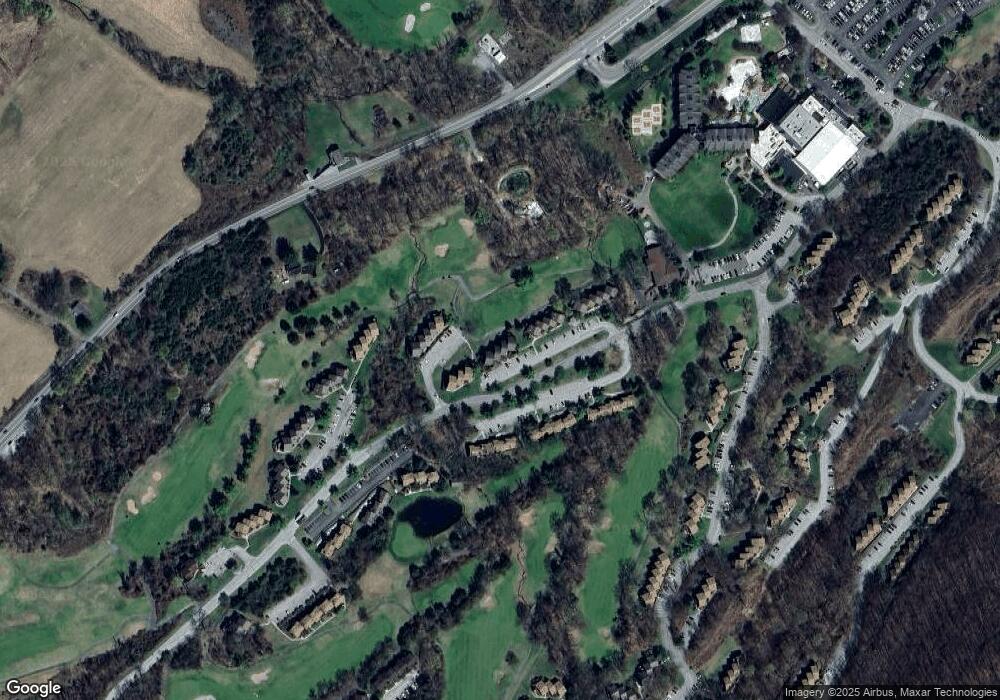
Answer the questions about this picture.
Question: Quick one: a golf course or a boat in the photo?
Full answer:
This aerial view contains a golf course.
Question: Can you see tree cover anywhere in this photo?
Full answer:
Yes, tree cover can be seen from above here.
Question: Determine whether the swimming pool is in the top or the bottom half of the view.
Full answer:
The swimming pool is in the top half of the image.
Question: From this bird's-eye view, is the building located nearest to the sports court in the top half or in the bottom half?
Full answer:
The top half of the photo is where the building located nearest to the sports court is.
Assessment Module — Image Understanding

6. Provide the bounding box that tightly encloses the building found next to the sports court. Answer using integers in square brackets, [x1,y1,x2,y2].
[650,68,755,180]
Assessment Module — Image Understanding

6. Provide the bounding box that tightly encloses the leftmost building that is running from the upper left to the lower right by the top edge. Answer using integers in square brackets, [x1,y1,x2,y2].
[479,33,505,63]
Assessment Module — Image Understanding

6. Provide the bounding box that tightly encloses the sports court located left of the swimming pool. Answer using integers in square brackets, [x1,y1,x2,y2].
[632,104,662,135]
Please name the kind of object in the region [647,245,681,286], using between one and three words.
building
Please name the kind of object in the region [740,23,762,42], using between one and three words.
building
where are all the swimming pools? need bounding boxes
[712,55,768,125]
